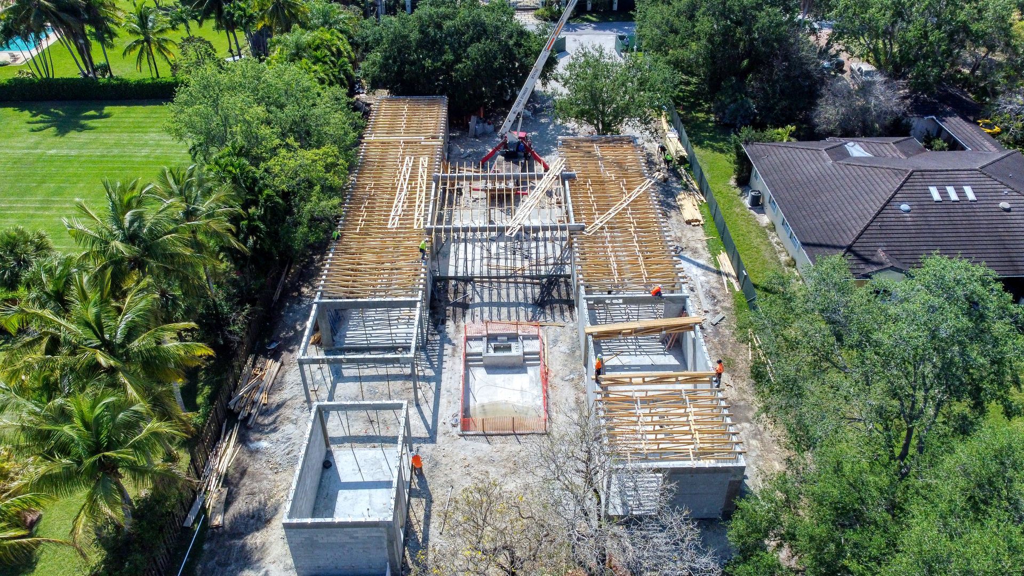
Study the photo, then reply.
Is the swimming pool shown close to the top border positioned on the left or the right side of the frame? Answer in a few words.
left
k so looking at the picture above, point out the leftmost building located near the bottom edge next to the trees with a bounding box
[283,400,413,572]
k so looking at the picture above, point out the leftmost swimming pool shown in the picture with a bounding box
[0,16,60,66]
